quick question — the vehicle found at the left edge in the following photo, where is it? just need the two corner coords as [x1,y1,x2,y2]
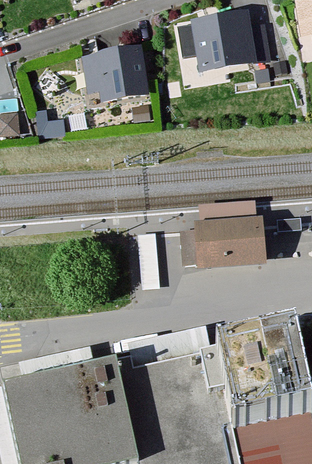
[0,42,20,57]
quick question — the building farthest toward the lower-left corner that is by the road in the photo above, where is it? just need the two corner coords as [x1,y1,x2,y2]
[0,346,138,464]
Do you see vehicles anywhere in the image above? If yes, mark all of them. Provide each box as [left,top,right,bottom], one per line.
[0,42,20,57]
[136,18,150,43]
